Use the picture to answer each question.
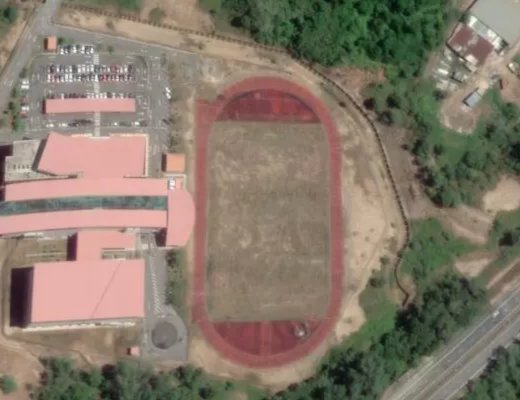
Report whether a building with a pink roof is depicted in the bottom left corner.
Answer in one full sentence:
Yes, in the bottom left corner there is a building with a pink roof.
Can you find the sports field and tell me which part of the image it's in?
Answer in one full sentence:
The sports field is in the center part of the image.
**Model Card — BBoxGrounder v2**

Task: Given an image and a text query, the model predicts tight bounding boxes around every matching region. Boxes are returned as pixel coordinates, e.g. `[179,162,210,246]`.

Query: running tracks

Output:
[193,77,344,368]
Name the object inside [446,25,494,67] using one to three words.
shed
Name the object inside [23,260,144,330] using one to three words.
building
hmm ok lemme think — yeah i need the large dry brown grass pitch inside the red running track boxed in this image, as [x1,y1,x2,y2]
[207,123,330,321]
